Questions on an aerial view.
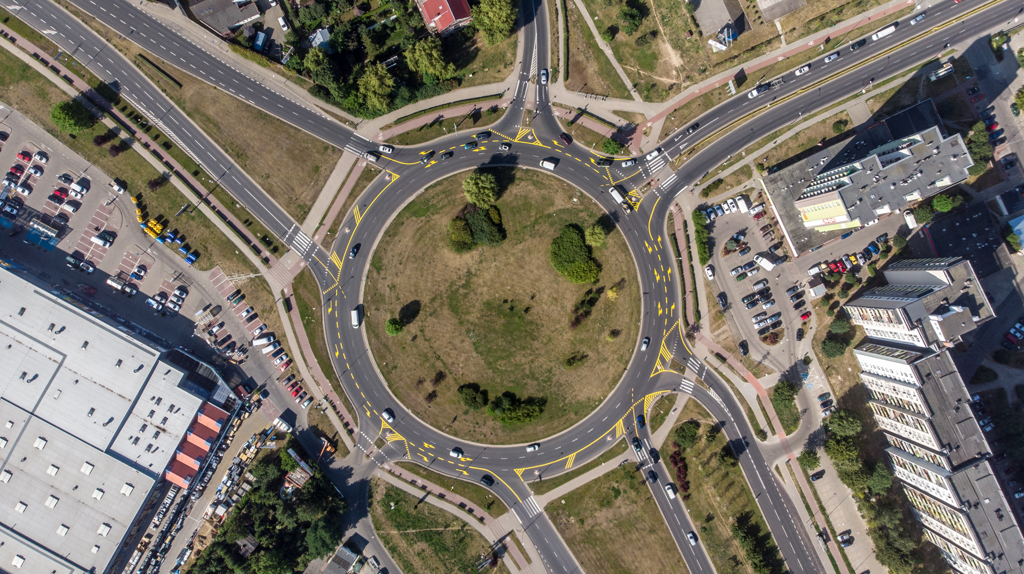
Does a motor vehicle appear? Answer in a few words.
Yes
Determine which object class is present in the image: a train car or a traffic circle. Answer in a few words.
traffic circle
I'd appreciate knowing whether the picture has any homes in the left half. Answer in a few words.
Yes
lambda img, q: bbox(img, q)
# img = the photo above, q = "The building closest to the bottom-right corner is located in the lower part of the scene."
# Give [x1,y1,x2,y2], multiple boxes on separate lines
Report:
[886,451,1024,574]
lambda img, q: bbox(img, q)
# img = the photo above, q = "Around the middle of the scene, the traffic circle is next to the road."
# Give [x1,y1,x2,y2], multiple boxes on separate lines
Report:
[314,126,692,503]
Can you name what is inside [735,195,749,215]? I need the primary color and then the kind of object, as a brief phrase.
white vehicle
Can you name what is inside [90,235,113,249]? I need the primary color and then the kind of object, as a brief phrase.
white vehicle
